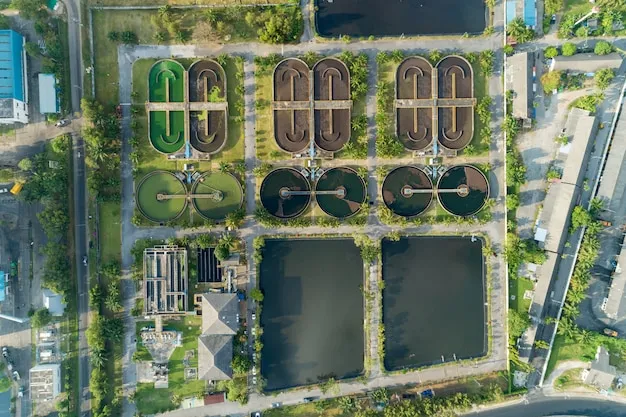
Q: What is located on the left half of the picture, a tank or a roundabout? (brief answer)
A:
tank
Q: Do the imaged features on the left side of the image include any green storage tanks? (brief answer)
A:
Yes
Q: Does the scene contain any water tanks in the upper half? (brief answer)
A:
Yes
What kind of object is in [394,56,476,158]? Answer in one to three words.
water tank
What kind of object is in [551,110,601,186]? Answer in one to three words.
building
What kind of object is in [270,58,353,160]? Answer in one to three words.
water tank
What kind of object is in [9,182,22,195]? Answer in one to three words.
vehicle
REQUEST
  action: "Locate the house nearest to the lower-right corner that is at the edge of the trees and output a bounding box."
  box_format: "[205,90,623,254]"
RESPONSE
[582,347,617,391]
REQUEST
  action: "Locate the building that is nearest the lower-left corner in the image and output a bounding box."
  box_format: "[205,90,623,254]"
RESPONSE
[31,365,61,399]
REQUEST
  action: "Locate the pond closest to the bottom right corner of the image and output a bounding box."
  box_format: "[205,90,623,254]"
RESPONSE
[381,235,487,372]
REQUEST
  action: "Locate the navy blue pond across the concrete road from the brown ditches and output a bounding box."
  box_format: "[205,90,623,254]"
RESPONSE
[316,0,488,39]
